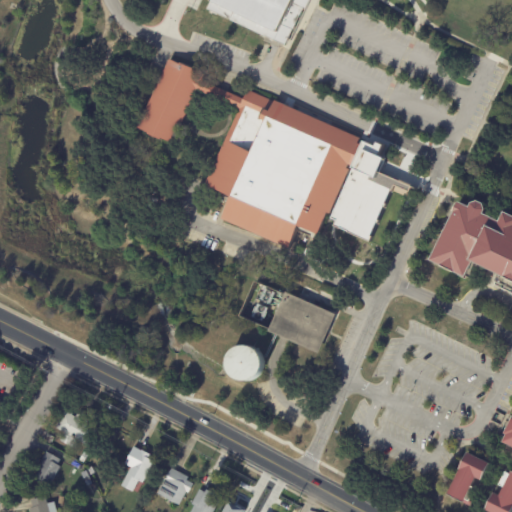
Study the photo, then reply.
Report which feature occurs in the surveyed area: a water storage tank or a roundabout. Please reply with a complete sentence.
The one in the frame is a water storage tank.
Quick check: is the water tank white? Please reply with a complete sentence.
Yes, the water tank is white.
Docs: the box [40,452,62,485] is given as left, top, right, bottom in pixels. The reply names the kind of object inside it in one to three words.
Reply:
house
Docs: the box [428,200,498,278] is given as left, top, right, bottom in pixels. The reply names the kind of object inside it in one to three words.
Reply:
building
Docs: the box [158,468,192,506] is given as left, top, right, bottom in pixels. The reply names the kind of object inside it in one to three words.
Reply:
house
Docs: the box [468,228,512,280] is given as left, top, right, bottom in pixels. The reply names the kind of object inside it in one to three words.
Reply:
building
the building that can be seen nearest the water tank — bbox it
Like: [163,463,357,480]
[268,292,338,352]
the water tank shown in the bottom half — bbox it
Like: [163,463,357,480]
[224,344,264,381]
